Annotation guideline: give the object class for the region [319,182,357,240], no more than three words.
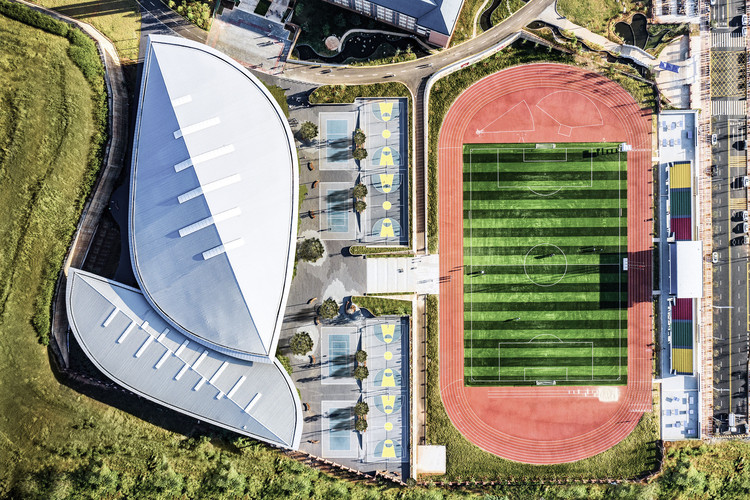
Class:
sports court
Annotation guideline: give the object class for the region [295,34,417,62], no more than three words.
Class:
pond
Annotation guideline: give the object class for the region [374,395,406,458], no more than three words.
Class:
basketball court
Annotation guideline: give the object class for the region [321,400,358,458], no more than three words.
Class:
sports court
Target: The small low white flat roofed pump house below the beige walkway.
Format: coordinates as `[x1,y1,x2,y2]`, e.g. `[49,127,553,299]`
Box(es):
[417,445,447,473]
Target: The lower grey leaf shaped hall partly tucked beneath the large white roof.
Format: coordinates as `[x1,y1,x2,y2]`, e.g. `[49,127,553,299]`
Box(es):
[67,270,302,449]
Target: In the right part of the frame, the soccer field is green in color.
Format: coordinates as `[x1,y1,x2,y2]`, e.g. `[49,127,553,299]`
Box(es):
[464,143,628,387]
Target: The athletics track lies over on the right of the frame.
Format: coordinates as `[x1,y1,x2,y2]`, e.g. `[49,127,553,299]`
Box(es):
[438,63,655,463]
